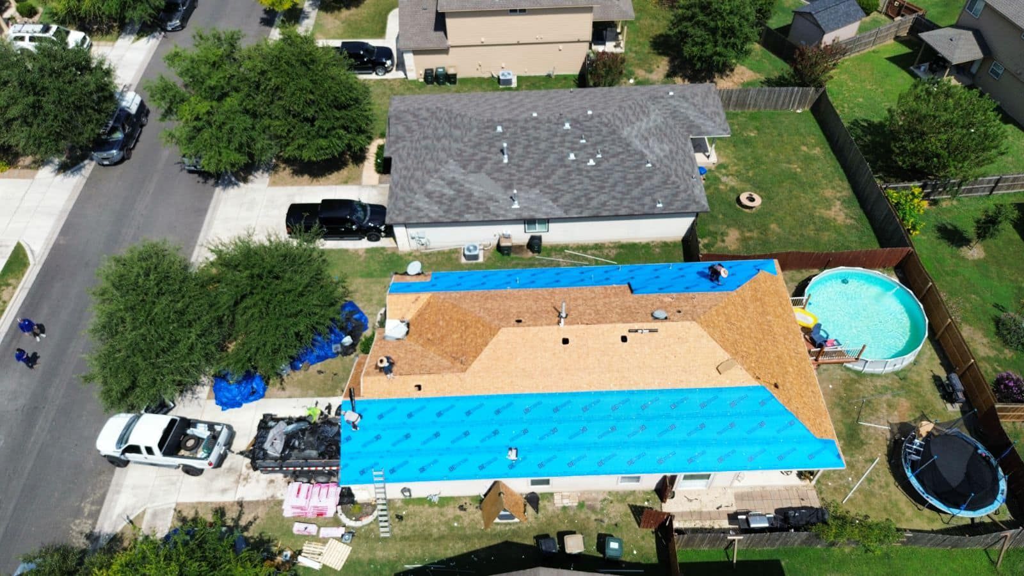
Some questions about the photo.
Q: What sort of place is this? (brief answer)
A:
residential area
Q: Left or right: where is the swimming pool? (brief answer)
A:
right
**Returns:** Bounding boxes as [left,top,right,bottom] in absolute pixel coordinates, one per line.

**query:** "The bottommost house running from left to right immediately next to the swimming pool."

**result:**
[339,258,845,496]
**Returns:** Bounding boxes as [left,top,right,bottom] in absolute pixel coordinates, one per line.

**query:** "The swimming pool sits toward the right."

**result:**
[800,266,929,375]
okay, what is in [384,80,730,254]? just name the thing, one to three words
house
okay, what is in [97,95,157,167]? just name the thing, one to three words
truck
